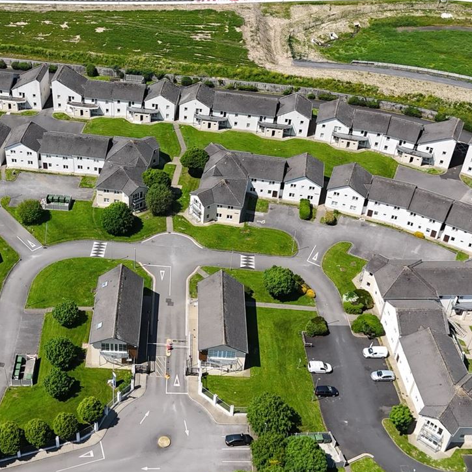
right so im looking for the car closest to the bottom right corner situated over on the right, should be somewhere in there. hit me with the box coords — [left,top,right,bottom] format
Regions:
[371,368,396,380]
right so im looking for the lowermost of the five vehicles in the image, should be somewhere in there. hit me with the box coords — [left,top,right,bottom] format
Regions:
[225,431,252,446]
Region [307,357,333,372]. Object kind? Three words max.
vehicle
